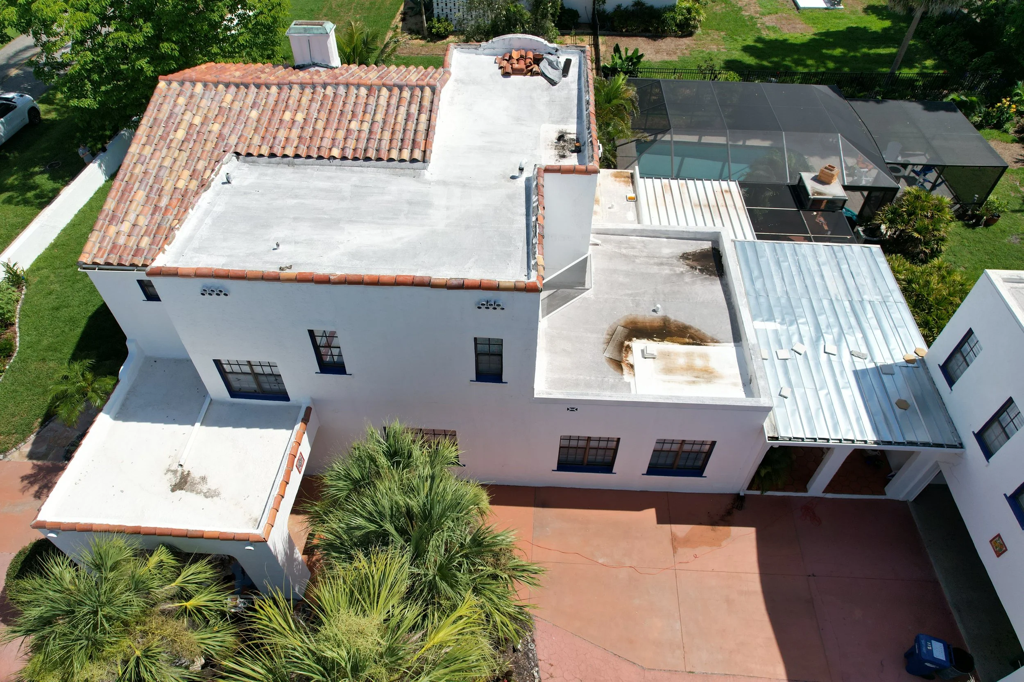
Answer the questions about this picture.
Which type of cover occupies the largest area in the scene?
buildings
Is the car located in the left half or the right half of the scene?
left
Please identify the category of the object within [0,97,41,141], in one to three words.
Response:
car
